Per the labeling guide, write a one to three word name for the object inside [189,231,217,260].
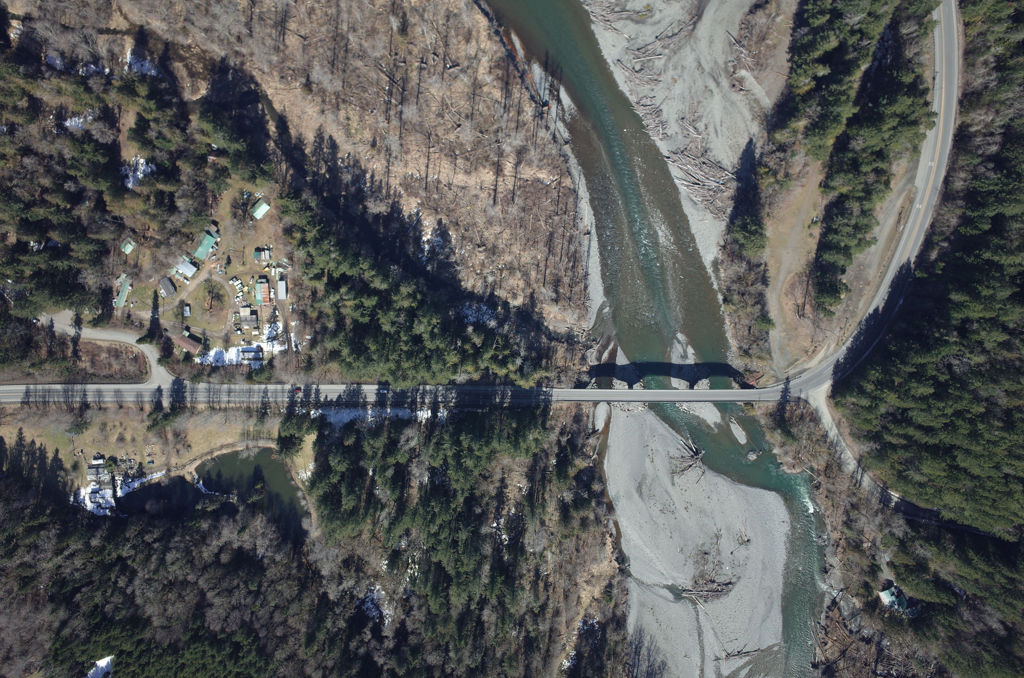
building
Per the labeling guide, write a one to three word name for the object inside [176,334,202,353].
house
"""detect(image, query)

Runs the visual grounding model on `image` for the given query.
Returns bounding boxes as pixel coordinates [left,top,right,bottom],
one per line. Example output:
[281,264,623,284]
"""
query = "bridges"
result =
[575,384,742,402]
